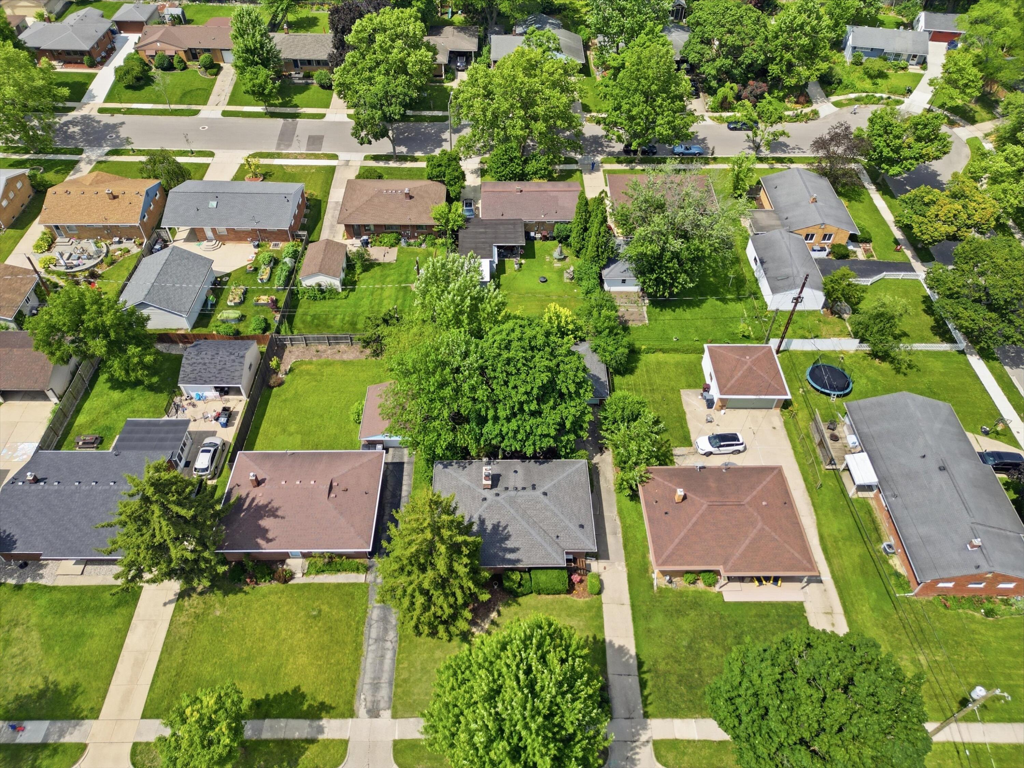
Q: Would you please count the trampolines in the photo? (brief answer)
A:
1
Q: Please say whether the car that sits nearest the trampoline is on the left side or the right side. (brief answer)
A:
right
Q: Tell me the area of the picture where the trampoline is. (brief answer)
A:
right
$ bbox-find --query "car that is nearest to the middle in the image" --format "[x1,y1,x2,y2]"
[461,198,479,219]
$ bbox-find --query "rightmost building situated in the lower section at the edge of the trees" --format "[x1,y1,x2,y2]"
[834,394,1024,598]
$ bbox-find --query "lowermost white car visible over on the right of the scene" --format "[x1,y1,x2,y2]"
[692,428,749,457]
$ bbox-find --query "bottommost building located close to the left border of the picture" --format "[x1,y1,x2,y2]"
[0,418,197,570]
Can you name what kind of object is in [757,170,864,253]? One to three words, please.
house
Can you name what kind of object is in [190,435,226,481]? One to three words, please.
car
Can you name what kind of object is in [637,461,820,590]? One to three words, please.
house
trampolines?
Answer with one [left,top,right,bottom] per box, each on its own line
[803,351,856,406]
